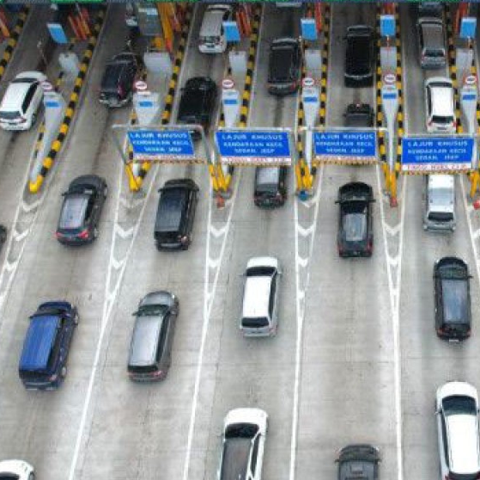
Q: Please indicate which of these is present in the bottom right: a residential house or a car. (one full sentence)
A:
The feature located in the bottom right is a car.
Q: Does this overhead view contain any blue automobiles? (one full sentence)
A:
Yes, the picture does show a blue automobile.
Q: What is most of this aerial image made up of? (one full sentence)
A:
The largest share of the image is taken up by paved ground.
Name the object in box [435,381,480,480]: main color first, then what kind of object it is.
white car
